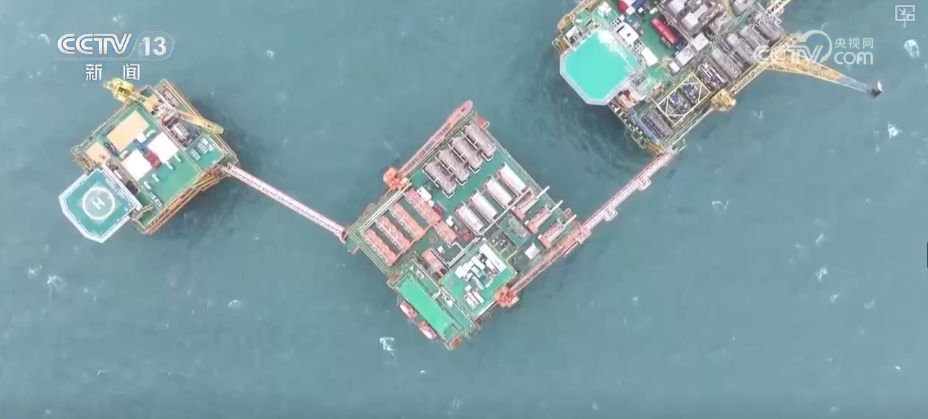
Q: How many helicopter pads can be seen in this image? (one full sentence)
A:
Looking from above, you can make out 2 helicopter pads.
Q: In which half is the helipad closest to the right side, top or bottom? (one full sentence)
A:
It is in the top half that the helipad closest to the right side appears.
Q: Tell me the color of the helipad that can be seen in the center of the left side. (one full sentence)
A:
In this view, the helipad that can be seen in the center of the left side is white.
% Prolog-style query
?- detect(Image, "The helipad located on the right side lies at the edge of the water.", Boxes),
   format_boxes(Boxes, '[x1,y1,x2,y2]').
[560,18,648,106]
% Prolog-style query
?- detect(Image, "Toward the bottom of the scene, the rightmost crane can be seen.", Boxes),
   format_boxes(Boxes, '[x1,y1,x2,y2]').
[493,232,577,310]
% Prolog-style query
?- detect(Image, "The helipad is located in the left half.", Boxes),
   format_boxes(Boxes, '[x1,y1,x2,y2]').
[60,157,149,243]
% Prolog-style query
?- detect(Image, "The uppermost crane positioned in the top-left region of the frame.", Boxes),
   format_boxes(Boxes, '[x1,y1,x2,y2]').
[104,83,225,132]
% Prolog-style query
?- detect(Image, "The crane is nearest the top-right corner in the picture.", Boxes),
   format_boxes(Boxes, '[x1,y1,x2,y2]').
[709,66,759,113]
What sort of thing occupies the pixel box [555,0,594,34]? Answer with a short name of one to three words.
crane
